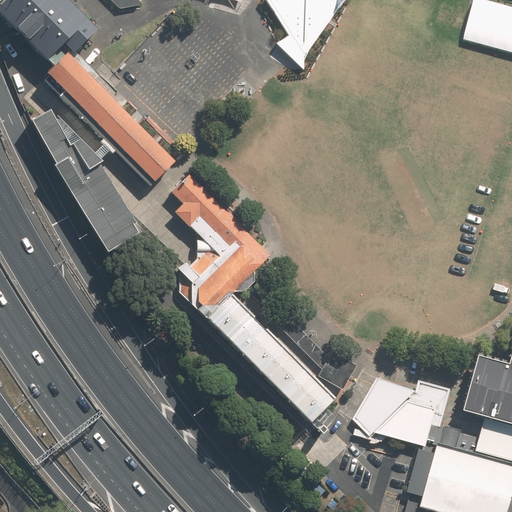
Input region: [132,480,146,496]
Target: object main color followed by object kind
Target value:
white car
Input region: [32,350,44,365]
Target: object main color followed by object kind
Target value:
white vehicle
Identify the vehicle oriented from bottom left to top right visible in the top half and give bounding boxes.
[86,48,100,64]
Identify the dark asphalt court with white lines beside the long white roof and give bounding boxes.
[262,312,330,374]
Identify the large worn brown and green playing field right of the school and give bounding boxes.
[214,0,512,345]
